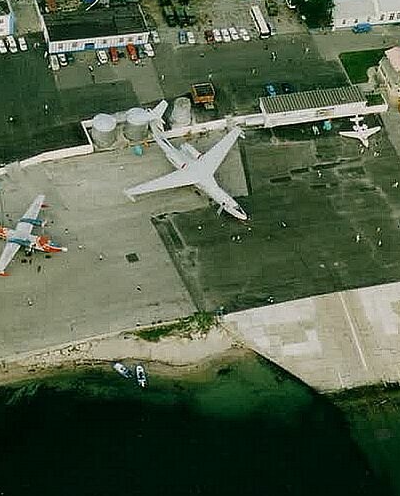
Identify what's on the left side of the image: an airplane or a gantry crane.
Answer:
airplane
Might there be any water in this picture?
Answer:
Yes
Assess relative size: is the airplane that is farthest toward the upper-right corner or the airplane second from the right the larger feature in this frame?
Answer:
the airplane second from the right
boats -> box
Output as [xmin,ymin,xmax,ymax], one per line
[115,362,131,377]
[135,365,147,385]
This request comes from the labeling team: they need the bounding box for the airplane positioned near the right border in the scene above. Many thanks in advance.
[339,111,380,146]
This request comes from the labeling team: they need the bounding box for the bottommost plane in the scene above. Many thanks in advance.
[0,193,67,275]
